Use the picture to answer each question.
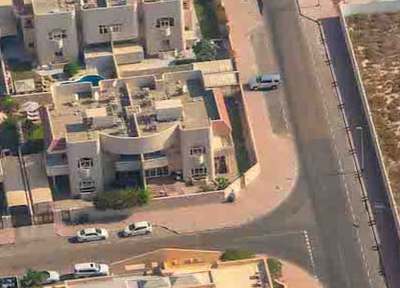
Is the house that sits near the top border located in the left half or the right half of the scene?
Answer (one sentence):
The house that sits near the top border is on the left side of the image.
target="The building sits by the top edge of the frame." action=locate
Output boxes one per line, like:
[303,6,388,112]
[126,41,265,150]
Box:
[28,0,204,84]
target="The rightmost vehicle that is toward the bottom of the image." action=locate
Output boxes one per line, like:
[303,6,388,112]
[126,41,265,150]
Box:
[119,218,153,236]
